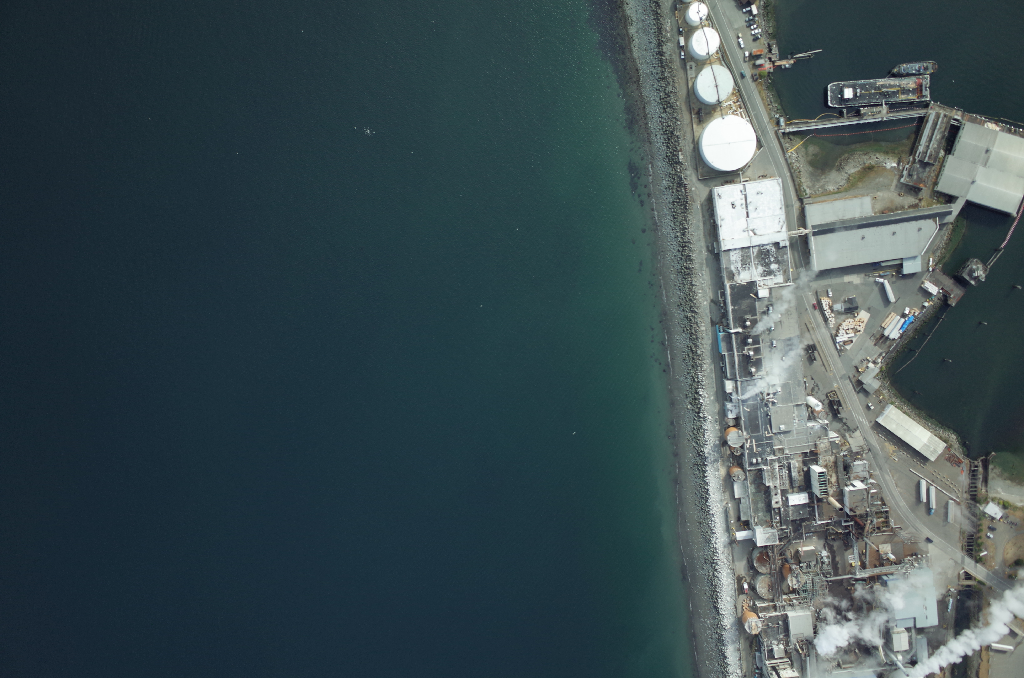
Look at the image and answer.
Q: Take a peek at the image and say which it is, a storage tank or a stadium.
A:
storage tank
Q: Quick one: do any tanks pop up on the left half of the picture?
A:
No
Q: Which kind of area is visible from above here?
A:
port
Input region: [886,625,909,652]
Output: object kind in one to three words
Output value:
house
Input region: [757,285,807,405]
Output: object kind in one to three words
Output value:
building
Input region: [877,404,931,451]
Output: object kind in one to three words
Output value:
shed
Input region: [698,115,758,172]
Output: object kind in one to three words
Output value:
storage tank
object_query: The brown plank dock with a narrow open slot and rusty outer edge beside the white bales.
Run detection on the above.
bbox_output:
[927,269,966,307]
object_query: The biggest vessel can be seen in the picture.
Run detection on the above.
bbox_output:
[826,75,930,107]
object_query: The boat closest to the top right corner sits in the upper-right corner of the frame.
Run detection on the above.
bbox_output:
[892,61,938,75]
